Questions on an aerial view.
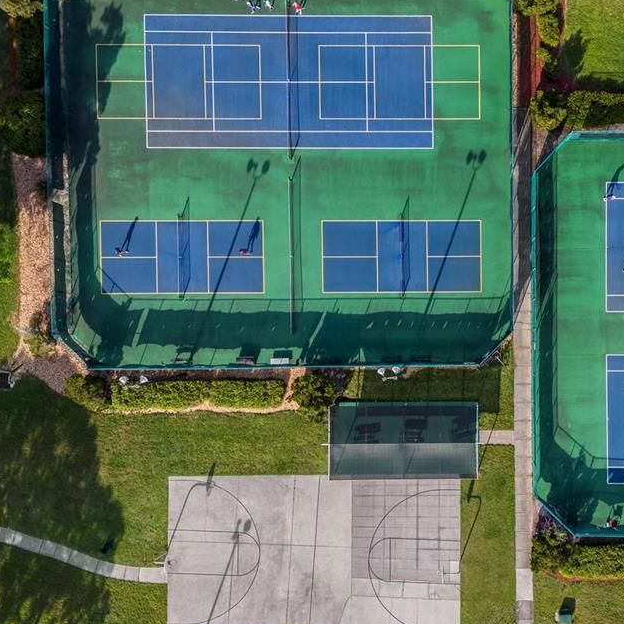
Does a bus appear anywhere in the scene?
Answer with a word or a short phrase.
No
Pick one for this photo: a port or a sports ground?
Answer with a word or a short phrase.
sports ground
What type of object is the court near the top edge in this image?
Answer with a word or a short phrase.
tennis court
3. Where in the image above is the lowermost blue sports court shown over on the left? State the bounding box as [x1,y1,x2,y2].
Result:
[99,220,265,294]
